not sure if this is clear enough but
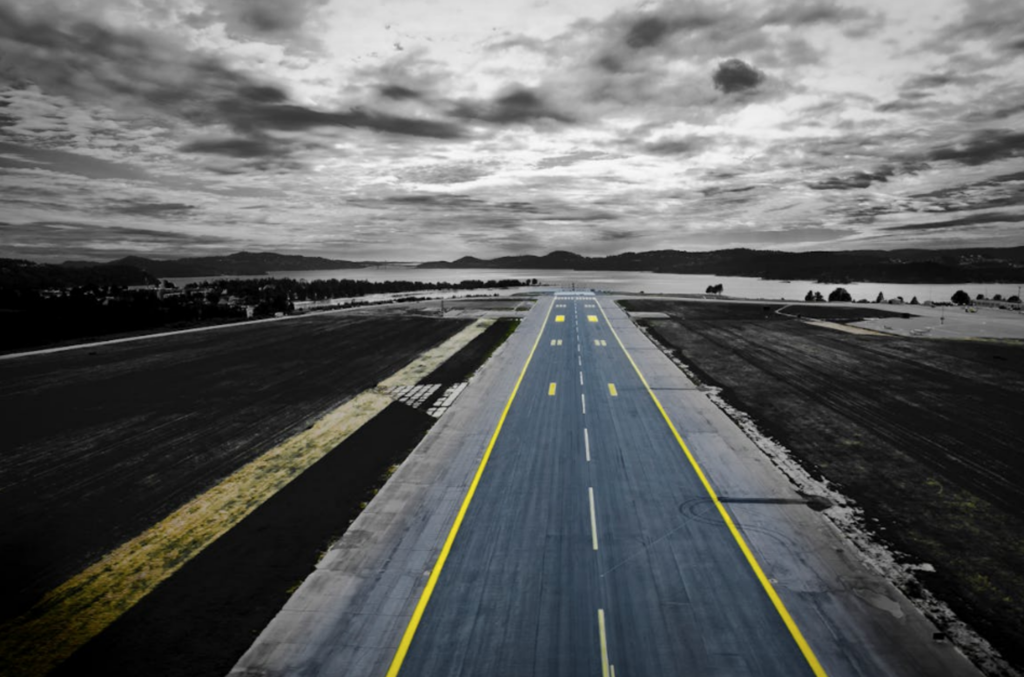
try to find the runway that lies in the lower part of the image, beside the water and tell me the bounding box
[384,291,824,677]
